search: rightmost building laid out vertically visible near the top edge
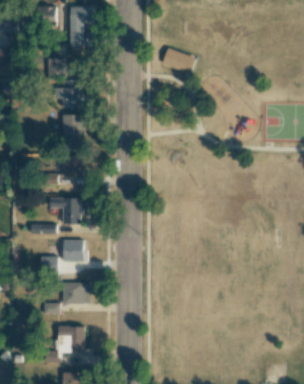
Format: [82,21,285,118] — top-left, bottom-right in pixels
[70,6,88,49]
